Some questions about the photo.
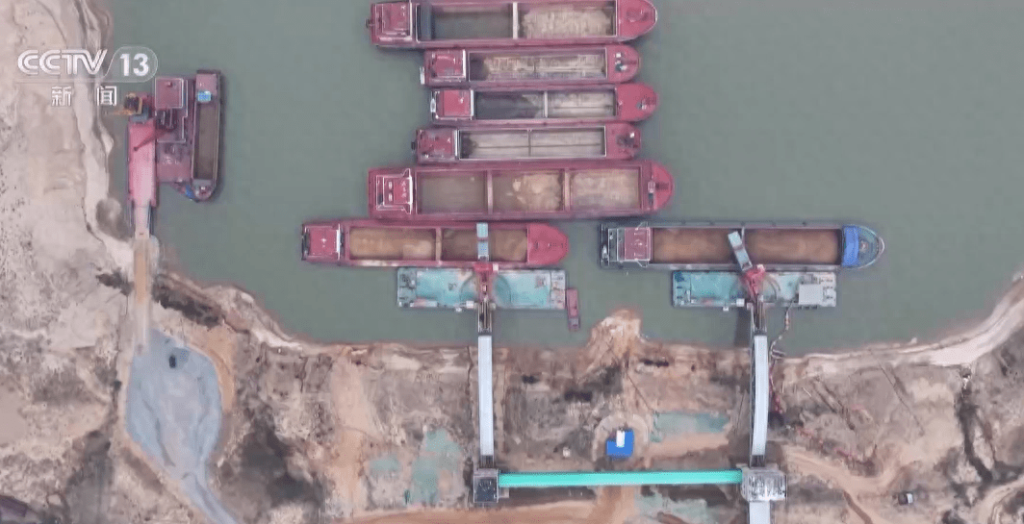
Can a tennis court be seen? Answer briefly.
No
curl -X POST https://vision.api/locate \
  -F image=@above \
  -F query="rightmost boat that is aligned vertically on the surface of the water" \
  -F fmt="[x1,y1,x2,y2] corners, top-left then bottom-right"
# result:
[567,289,579,330]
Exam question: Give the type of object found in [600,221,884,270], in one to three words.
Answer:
ship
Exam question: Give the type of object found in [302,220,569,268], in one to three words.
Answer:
ship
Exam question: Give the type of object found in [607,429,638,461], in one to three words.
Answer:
shed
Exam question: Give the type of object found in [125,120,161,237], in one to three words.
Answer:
pier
